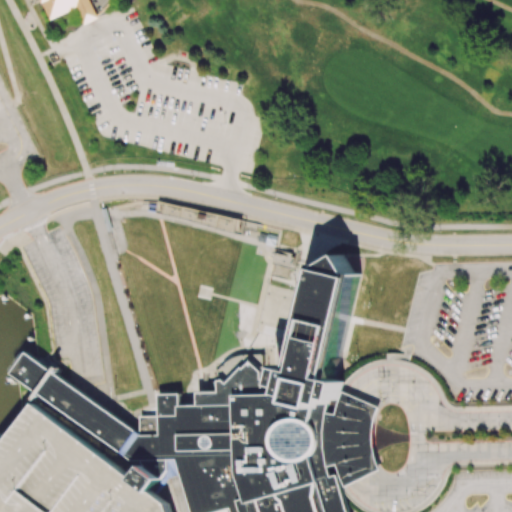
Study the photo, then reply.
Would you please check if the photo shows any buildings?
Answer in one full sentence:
Yes, a building appears in the view.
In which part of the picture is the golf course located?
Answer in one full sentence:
The golf course is located in the top right region of the scene.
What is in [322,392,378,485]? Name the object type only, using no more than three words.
building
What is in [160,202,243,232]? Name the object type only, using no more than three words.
building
